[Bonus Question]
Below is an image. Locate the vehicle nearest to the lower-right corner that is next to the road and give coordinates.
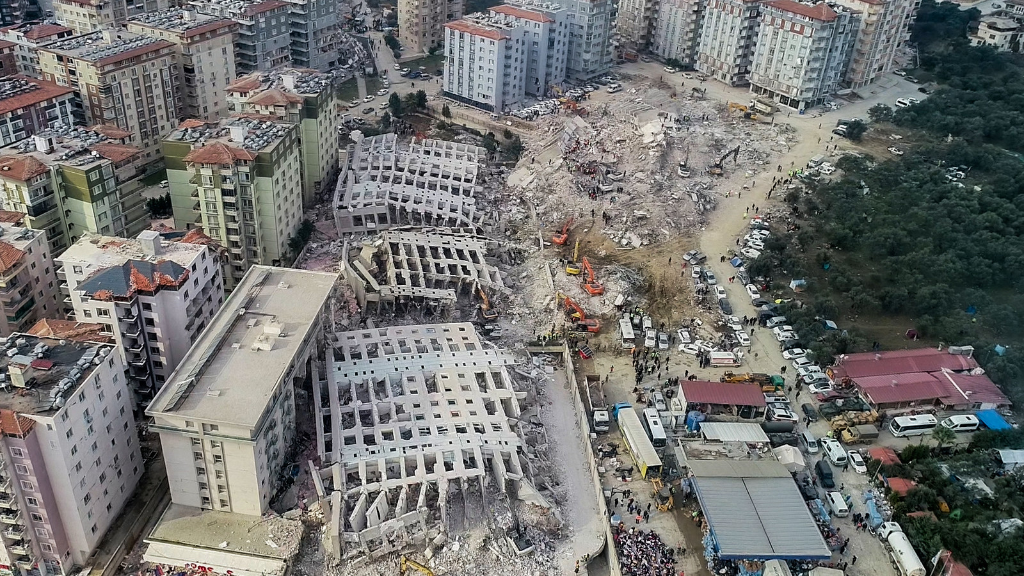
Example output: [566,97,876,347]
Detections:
[885,512,933,576]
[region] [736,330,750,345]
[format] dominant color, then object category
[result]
white car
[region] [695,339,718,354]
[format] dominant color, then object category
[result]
white car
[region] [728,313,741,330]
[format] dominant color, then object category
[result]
white vehicle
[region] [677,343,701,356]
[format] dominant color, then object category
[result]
white vehicle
